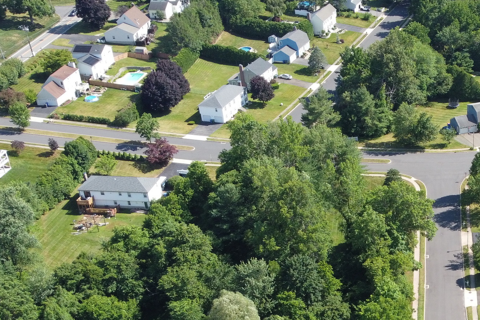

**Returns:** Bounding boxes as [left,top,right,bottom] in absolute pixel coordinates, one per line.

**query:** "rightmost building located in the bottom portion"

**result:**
[76,172,162,216]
